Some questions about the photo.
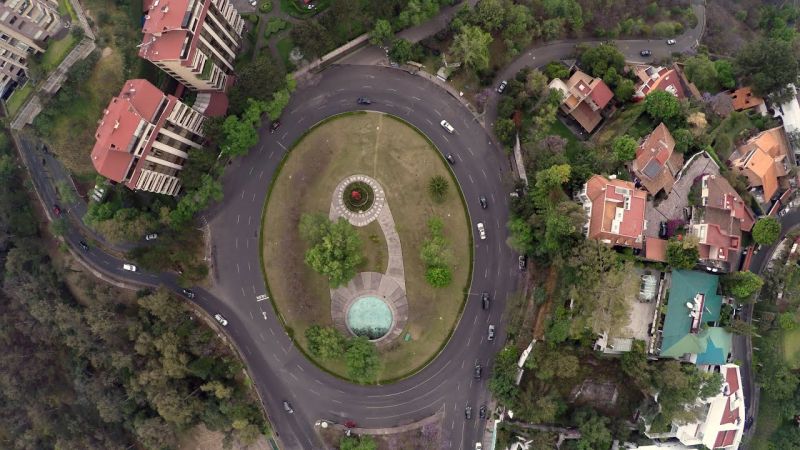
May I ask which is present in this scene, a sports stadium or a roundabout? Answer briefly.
roundabout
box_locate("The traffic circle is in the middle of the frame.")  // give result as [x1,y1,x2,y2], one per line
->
[259,109,474,384]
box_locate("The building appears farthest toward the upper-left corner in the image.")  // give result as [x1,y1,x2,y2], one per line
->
[0,0,61,96]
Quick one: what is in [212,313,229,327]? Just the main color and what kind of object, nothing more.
white vehicle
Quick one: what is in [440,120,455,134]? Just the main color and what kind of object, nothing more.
white vehicle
